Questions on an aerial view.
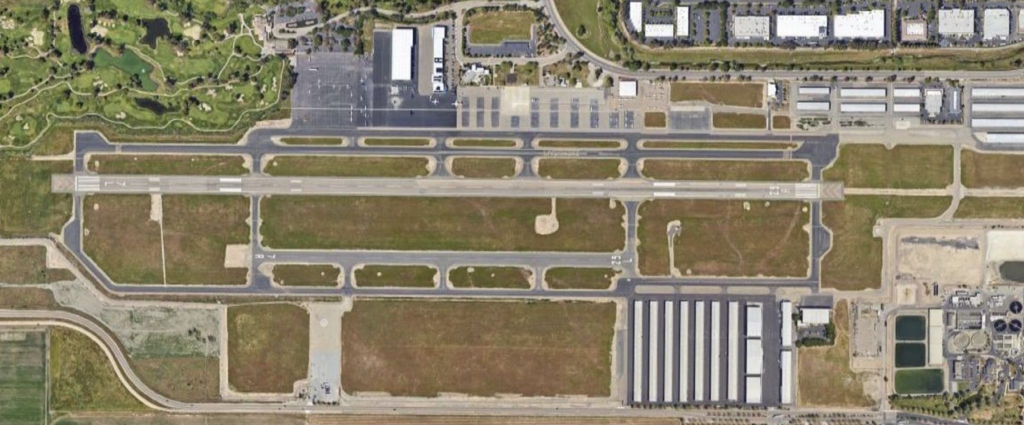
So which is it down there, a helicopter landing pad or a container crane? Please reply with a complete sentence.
Looking from above, you can make out a helicopter landing pad.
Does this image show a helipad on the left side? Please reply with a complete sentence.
Yes, a helipad can be seen on the left side.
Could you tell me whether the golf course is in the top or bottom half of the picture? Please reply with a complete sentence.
It is in the top half that the golf course appears.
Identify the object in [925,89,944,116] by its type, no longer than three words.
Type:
building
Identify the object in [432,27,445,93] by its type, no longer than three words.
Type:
hangar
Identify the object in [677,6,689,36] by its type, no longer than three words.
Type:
building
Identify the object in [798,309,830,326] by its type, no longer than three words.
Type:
hangar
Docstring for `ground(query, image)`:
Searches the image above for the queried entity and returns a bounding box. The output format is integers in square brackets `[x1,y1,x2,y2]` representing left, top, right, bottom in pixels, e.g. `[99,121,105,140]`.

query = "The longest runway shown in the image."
[52,174,844,200]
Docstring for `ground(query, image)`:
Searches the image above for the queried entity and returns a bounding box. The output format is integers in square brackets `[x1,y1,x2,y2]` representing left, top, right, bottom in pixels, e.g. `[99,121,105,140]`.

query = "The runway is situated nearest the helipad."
[253,251,637,277]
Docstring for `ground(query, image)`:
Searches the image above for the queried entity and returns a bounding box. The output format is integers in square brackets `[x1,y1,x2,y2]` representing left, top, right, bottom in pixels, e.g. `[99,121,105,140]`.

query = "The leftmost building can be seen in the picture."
[253,14,271,40]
